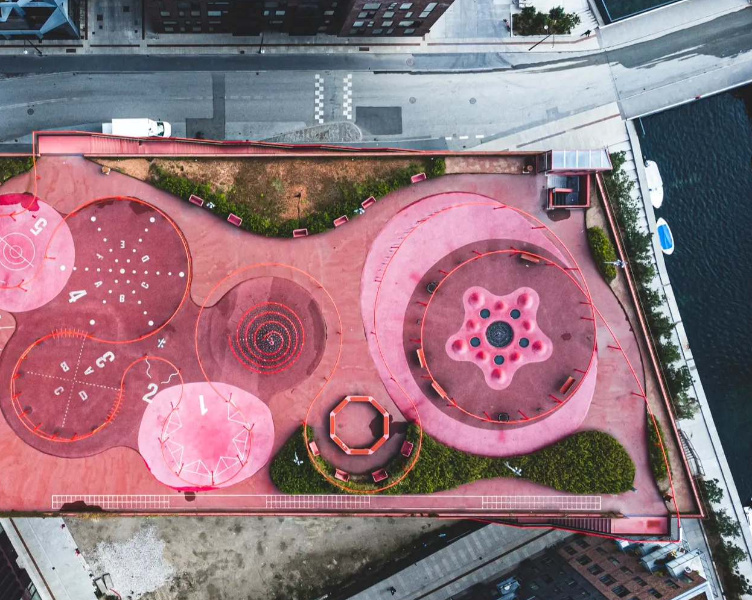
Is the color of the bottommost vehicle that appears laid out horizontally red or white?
white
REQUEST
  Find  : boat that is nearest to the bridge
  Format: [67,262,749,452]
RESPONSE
[645,159,663,208]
